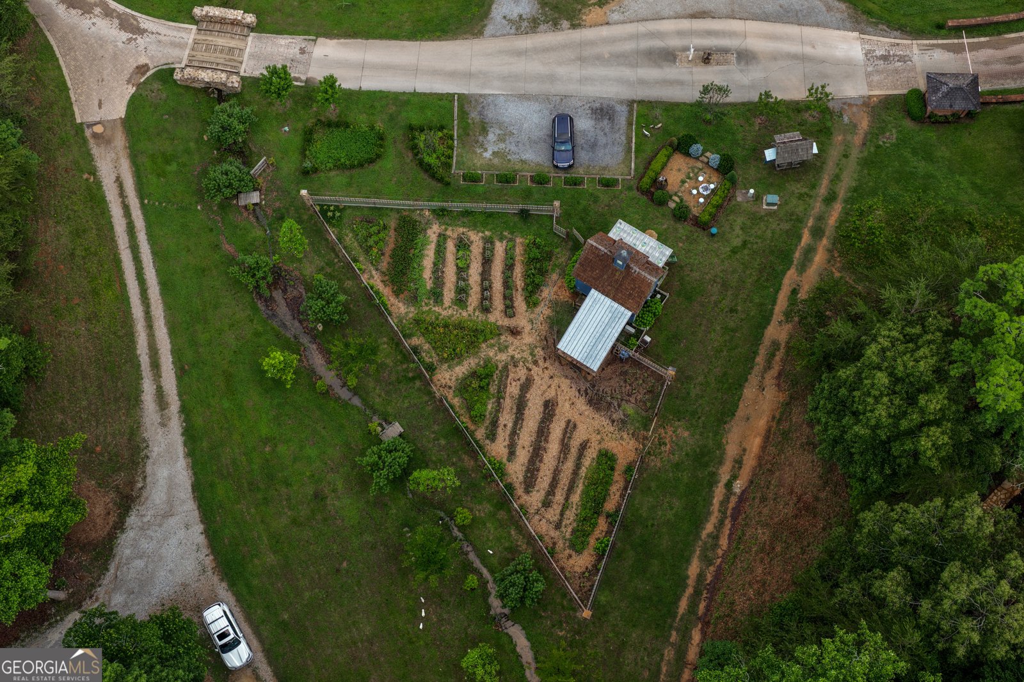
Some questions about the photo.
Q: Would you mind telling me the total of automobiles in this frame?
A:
2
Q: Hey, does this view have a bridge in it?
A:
Yes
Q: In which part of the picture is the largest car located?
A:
bottom left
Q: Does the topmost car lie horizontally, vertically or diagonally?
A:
vertically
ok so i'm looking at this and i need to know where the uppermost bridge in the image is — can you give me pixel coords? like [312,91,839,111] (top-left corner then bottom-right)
[173,22,261,75]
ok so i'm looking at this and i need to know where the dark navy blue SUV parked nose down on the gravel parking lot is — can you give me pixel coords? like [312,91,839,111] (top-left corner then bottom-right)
[550,114,577,168]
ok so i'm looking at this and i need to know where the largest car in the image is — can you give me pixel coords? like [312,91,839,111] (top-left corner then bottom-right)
[204,601,252,674]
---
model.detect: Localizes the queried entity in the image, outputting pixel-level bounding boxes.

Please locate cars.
[550,114,577,168]
[204,601,252,674]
